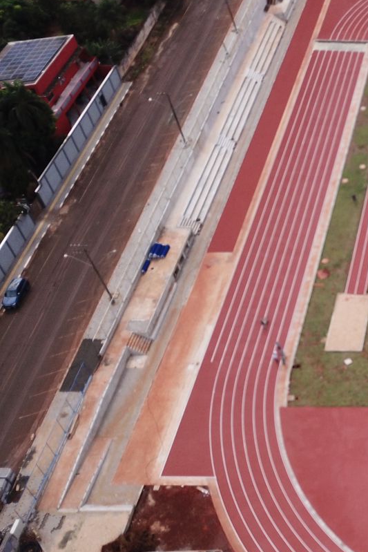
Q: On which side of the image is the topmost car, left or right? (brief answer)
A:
left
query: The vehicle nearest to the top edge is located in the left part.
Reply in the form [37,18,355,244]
[1,281,29,309]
